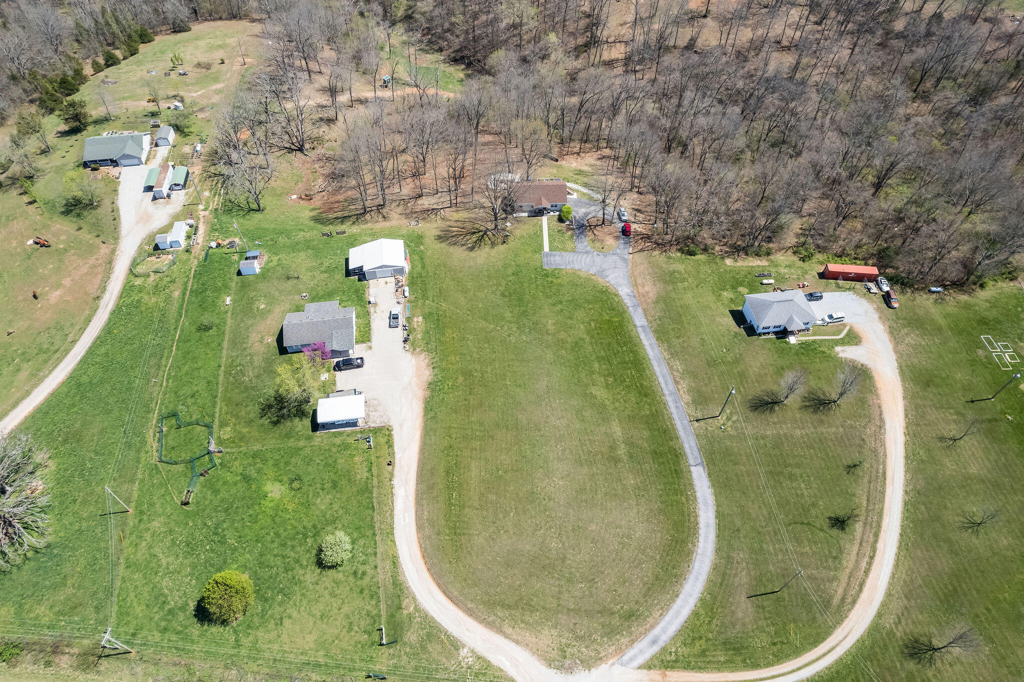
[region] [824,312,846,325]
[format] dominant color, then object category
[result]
white vehicle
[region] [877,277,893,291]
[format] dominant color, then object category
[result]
gray car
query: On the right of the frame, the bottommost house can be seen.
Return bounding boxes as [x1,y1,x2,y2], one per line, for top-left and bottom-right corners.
[743,289,819,340]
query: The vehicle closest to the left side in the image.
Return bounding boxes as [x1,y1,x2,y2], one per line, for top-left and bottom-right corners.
[30,235,52,249]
